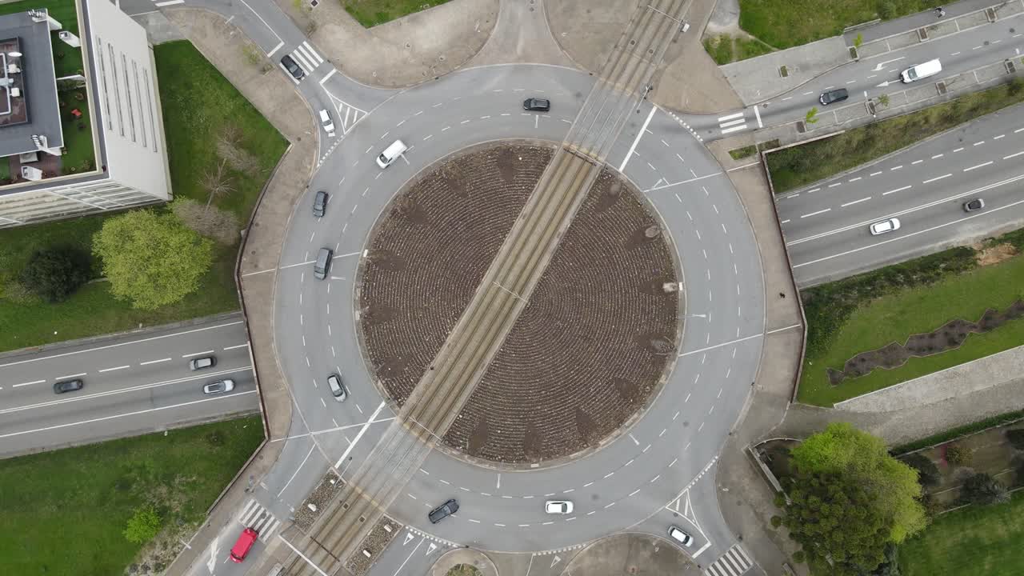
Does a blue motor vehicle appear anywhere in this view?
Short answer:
No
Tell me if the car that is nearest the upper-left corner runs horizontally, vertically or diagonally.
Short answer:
diagonally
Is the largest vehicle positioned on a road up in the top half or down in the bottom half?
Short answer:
top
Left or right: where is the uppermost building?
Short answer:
left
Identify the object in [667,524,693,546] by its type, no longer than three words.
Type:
car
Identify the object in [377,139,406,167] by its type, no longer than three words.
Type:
vehicle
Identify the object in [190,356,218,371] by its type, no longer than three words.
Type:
car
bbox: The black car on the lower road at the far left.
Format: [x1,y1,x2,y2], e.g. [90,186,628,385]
[54,378,85,394]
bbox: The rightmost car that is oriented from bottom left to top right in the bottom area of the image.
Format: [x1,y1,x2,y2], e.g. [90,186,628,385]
[428,499,458,524]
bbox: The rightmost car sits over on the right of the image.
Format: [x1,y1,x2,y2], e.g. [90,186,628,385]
[961,197,984,212]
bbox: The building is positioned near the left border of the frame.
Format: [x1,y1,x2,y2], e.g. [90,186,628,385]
[0,0,171,231]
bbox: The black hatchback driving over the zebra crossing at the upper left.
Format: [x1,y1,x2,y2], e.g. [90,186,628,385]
[280,54,305,80]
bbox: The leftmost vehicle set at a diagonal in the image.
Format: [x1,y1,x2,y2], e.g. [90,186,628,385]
[231,528,258,560]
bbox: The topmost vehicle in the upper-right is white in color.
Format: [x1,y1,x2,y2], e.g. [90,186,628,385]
[900,57,946,83]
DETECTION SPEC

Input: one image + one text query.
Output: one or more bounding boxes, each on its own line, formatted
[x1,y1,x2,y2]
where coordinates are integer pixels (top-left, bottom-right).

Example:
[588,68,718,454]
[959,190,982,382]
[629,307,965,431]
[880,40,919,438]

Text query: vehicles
[667,524,693,546]
[190,356,218,371]
[280,54,305,80]
[818,88,849,105]
[900,57,946,83]
[545,500,573,514]
[868,218,899,235]
[231,528,258,560]
[428,499,458,524]
[204,379,235,394]
[961,197,984,212]
[326,374,347,401]
[377,139,406,167]
[312,191,329,217]
[54,378,85,394]
[523,97,550,112]
[319,109,336,134]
